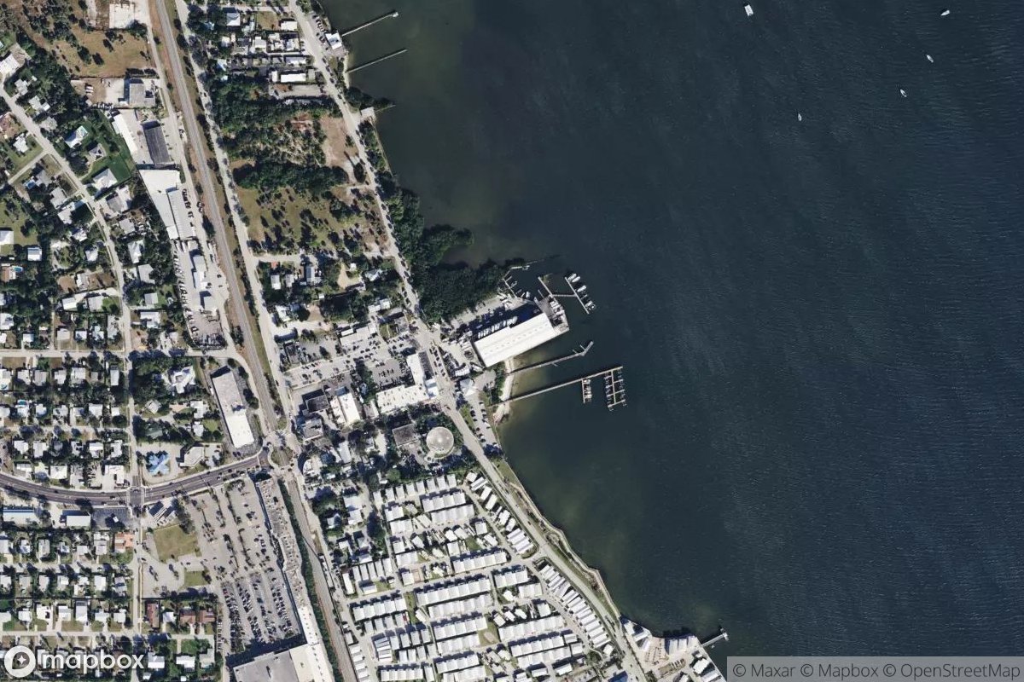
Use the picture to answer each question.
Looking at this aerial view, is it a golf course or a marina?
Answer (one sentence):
The picture captures a marina.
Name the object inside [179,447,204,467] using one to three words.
building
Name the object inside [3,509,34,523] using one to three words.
house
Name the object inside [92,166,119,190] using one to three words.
house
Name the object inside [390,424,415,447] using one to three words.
building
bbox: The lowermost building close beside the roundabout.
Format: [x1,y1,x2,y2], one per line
[258,479,312,609]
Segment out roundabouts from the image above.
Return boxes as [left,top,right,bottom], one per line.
[257,432,302,476]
